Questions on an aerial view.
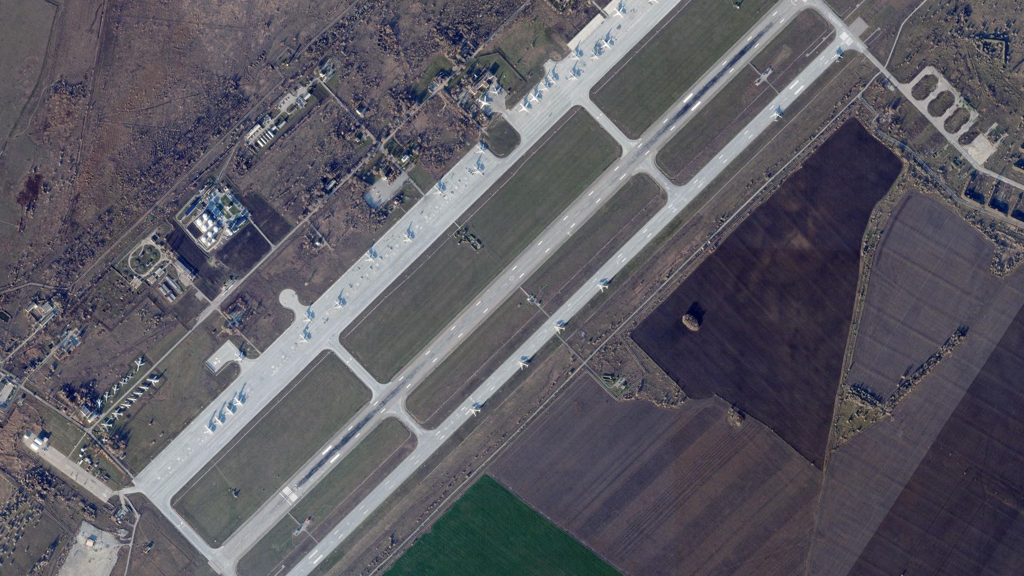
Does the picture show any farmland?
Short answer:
Yes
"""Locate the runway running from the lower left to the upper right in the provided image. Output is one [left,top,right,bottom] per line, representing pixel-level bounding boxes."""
[223,0,811,563]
